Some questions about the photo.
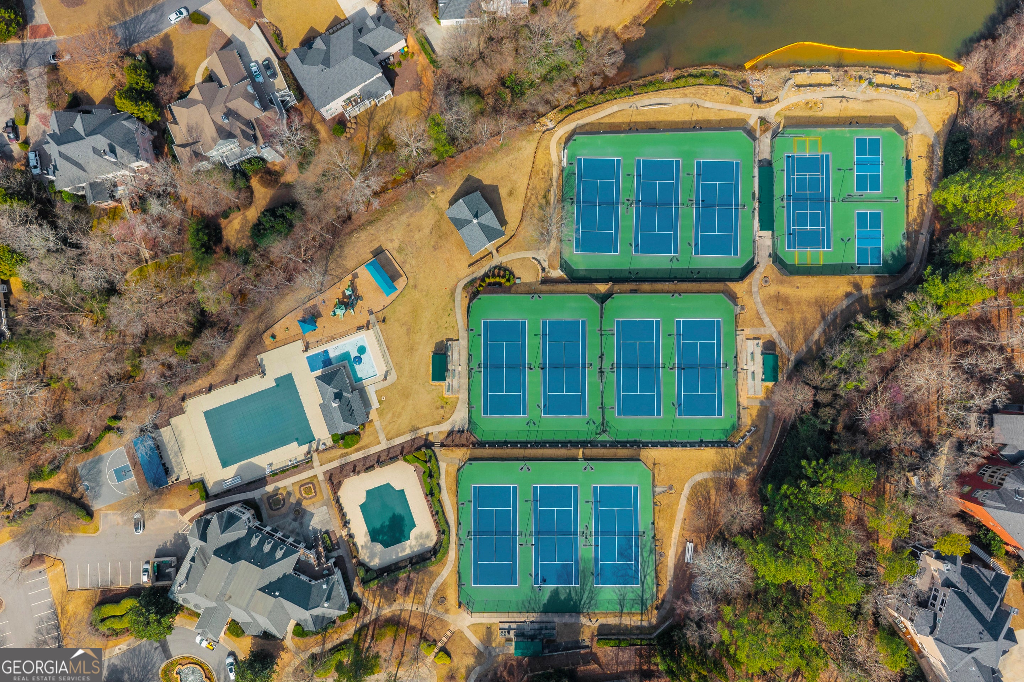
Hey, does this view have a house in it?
Yes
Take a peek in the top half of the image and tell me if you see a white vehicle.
Yes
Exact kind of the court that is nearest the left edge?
basketball court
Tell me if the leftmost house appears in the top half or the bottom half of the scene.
top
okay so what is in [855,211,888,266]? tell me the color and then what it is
blue sports court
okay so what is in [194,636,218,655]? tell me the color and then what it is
white vehicle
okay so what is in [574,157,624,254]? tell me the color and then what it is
blue tennis court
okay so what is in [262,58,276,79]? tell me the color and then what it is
black car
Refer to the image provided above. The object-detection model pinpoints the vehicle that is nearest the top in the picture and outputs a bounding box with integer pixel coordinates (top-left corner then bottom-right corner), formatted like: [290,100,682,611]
[167,5,187,21]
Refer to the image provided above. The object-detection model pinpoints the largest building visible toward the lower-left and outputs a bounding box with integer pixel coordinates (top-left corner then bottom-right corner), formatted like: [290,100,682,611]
[169,504,352,647]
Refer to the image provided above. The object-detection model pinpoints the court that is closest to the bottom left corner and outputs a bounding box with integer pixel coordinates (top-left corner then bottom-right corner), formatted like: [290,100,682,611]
[77,447,140,510]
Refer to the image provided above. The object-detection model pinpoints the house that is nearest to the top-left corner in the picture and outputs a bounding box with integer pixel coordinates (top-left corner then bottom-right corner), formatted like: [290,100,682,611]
[41,109,155,206]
